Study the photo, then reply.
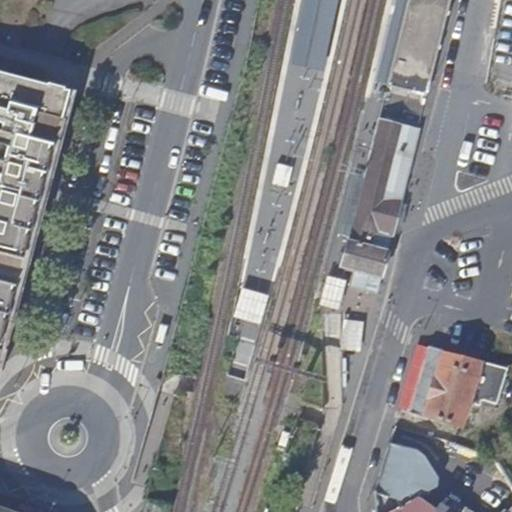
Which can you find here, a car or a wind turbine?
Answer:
car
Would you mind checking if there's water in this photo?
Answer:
No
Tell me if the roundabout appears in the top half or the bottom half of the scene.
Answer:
bottom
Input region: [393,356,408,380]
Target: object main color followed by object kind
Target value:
gray car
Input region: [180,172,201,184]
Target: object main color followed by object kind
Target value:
white vehicle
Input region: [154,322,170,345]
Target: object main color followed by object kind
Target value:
white vehicle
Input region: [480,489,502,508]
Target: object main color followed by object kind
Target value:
white car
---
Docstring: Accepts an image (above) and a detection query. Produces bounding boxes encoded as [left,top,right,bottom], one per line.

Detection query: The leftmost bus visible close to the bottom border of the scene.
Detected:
[326,447,354,504]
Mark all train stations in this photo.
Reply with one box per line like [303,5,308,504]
[352,119,420,237]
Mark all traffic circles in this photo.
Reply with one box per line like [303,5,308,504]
[0,355,150,512]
